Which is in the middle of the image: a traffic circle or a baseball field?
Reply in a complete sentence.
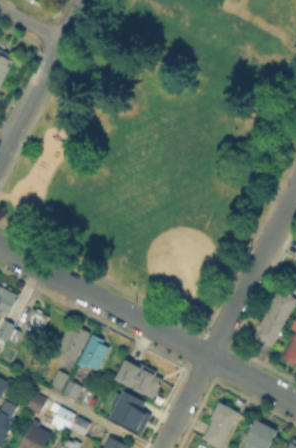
There is a baseball field in the middle of the image.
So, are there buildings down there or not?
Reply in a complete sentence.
Yes, the frame does contain a building.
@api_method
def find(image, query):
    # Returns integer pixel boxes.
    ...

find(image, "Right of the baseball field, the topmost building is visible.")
[258,294,296,344]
